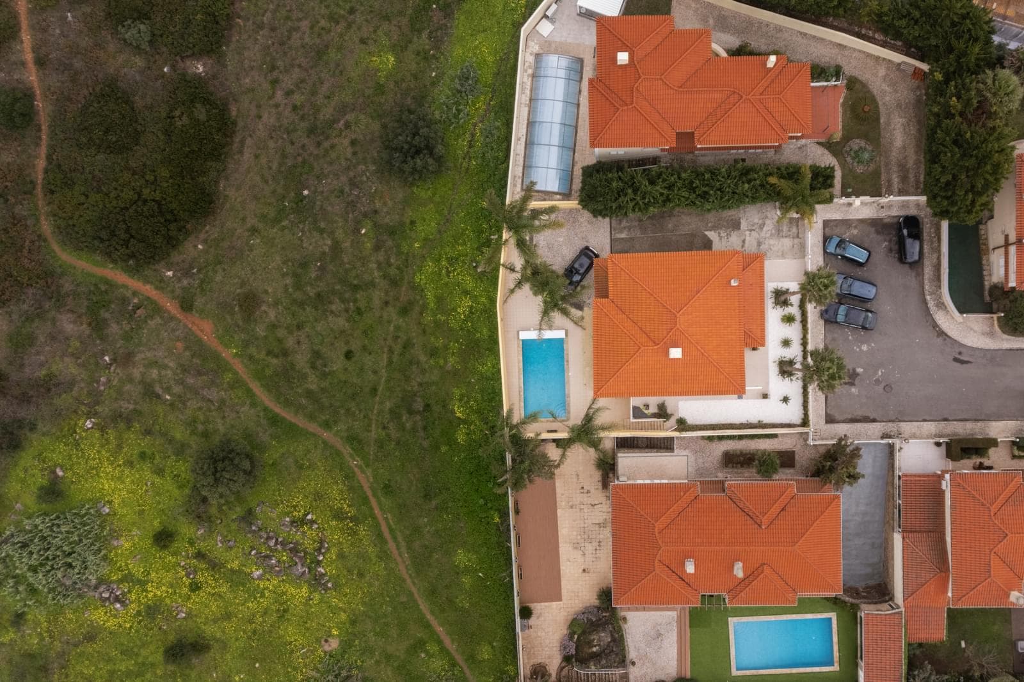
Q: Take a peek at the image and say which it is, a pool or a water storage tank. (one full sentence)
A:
This aerial view contains a pool.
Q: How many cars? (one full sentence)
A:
There are 5 cars in the image.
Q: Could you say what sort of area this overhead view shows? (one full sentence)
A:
What you see here is a residential area.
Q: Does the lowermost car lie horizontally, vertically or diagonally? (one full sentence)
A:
The lowermost car runs horizontally in the image.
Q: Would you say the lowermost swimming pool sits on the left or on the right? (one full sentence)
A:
You can find the lowermost swimming pool on the right side of the picture.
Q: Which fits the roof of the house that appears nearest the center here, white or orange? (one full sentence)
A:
The roof of the house that appears nearest the center is orange.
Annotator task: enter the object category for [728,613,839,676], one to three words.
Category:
swimming pool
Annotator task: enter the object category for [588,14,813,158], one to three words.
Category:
house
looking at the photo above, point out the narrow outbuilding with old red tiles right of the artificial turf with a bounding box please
[856,612,901,682]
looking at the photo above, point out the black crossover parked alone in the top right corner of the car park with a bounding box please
[894,216,924,265]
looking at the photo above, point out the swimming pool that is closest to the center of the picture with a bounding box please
[517,327,570,423]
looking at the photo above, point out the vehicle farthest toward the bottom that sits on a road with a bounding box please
[820,304,878,329]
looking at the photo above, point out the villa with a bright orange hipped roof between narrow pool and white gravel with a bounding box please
[590,250,767,399]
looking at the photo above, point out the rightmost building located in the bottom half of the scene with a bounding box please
[896,469,1024,643]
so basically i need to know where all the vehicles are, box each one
[894,216,924,265]
[829,272,882,302]
[820,304,878,329]
[563,243,603,295]
[823,236,872,265]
